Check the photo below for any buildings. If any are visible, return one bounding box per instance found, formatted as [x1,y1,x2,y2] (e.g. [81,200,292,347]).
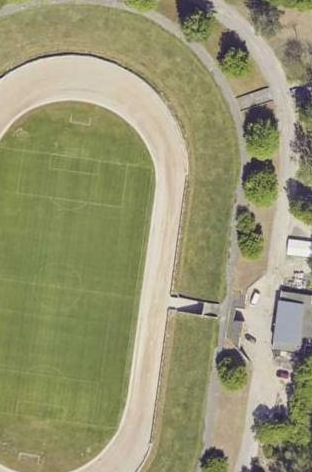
[286,237,312,257]
[271,290,312,362]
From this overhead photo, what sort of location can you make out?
sports ground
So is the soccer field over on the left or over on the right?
left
